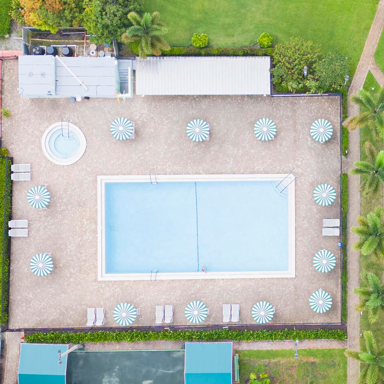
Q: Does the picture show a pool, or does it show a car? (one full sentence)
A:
The image shows a pool.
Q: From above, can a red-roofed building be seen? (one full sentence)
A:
No, I can't see a single red-roofed building in this photo.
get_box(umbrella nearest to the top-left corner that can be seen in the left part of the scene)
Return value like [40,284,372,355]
[110,117,135,141]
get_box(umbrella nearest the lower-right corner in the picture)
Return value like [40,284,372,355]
[309,290,332,314]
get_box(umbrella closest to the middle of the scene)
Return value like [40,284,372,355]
[187,119,210,142]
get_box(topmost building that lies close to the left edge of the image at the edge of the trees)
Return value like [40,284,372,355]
[16,55,136,99]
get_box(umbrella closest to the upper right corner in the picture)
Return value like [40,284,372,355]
[310,119,334,143]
